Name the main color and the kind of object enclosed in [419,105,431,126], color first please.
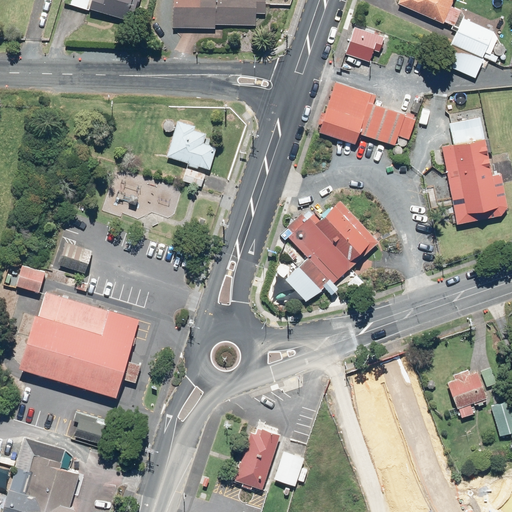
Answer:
white vehicle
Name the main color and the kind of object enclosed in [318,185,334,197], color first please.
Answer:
white vehicle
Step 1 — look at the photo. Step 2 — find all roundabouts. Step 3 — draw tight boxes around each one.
[210,340,241,372]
